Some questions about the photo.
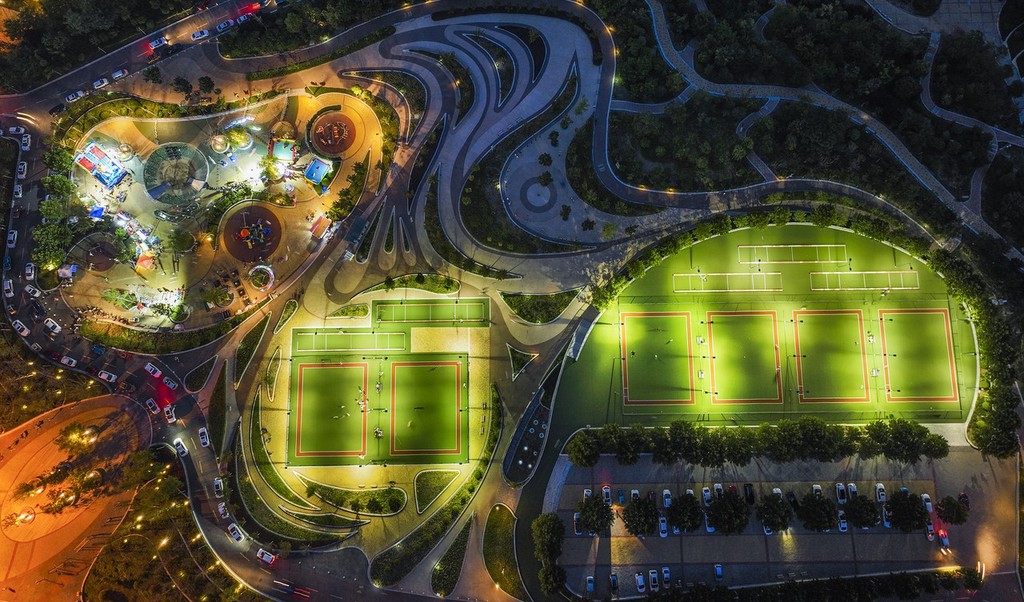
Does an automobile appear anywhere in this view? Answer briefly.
Yes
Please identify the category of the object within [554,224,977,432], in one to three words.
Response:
sports field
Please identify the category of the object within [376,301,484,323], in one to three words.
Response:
sports court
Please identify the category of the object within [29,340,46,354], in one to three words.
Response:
car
